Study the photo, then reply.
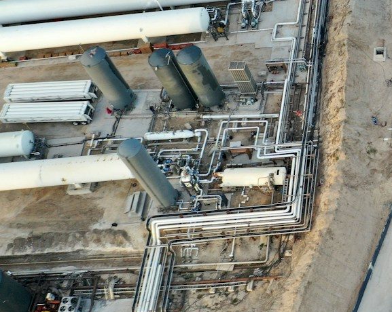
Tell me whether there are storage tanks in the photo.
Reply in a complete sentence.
Yes, looking at the shot, I can spot a storage tank.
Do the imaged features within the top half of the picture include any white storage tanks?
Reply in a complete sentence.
Yes, there is a white storage tank within the top half of the picture.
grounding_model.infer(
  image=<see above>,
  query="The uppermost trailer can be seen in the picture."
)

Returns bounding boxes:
[2,71,95,97]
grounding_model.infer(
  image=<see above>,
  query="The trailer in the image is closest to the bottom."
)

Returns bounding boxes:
[0,94,96,123]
